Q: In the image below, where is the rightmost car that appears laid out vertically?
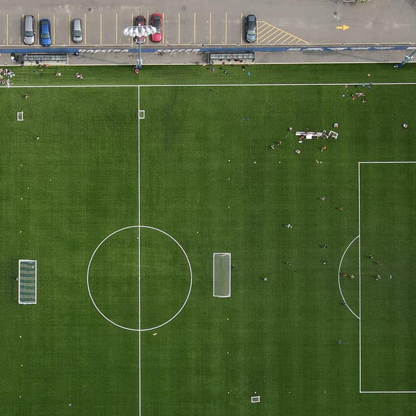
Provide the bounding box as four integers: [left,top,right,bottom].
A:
[244,16,256,43]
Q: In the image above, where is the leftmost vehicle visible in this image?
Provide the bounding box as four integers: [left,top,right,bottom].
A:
[22,16,36,46]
